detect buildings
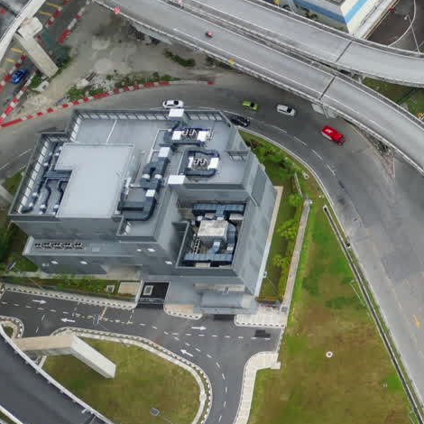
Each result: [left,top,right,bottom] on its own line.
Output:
[5,106,281,319]
[276,0,399,39]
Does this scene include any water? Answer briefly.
No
